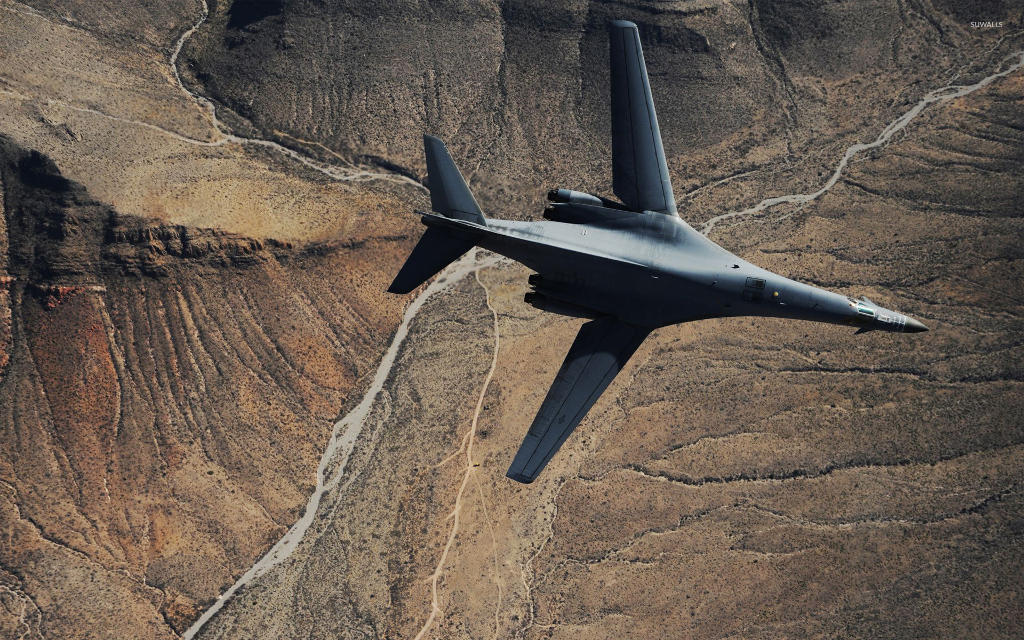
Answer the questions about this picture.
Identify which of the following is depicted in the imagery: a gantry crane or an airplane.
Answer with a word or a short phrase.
airplane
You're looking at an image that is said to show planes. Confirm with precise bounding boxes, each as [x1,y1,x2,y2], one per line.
[390,24,929,482]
